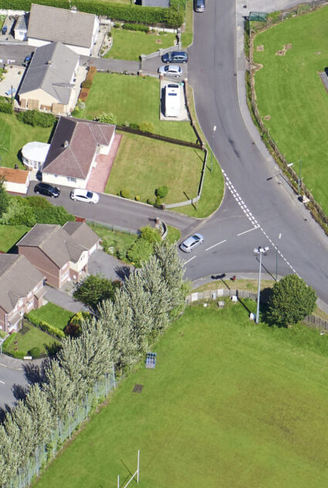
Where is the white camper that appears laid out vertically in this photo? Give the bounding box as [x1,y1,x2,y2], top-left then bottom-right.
[166,80,181,115]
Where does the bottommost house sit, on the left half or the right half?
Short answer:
left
